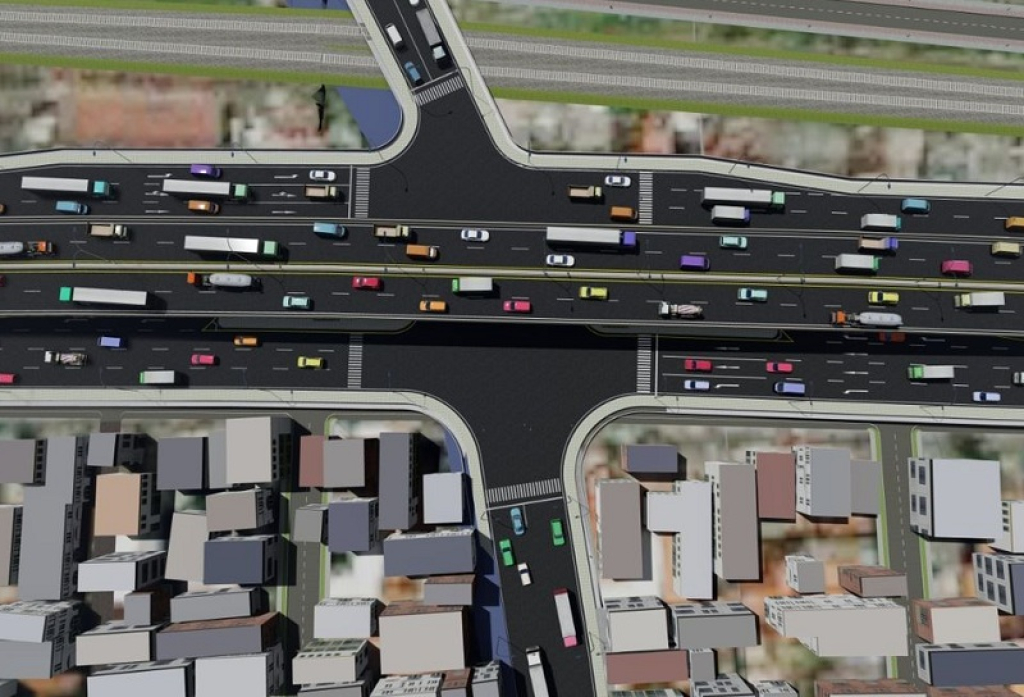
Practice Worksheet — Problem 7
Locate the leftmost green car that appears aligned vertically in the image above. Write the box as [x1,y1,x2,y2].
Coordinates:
[500,537,514,565]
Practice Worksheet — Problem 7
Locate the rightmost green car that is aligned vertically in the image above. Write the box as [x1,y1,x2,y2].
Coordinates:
[550,517,564,545]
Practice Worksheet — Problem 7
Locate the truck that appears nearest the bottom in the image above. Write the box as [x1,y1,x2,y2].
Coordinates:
[526,642,550,697]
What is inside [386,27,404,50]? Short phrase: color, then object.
white car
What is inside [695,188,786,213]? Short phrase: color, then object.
white truck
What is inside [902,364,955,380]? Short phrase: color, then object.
white vehicle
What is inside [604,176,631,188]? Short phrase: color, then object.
white vehicle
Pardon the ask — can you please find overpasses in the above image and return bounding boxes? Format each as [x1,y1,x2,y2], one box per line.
[0,215,1024,338]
